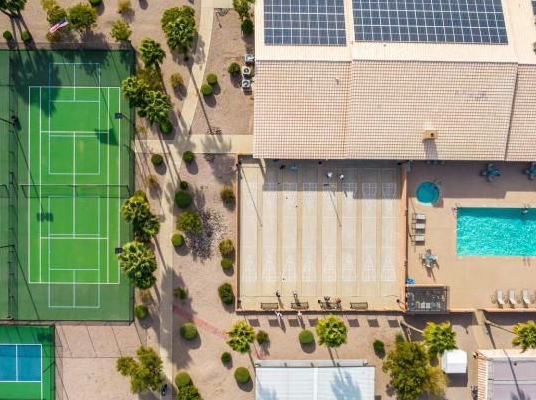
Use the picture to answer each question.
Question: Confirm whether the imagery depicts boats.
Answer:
No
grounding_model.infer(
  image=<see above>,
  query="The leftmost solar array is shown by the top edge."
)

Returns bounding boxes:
[263,0,345,44]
